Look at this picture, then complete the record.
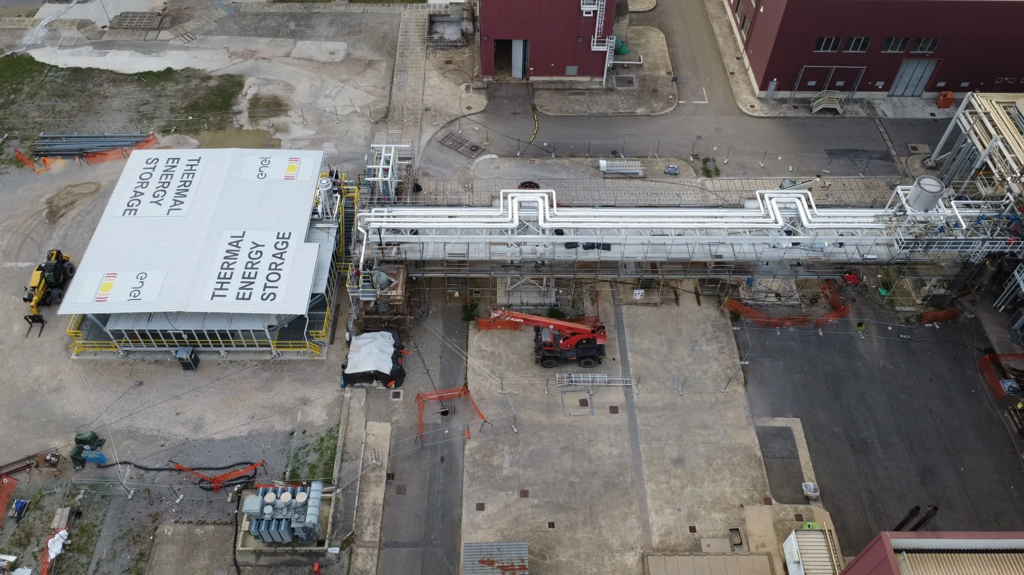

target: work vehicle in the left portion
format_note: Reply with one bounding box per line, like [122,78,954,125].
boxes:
[9,249,74,335]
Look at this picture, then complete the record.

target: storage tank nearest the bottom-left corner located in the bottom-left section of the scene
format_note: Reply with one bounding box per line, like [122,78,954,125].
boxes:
[248,498,304,530]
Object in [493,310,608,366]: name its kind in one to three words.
crane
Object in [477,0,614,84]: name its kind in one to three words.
building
